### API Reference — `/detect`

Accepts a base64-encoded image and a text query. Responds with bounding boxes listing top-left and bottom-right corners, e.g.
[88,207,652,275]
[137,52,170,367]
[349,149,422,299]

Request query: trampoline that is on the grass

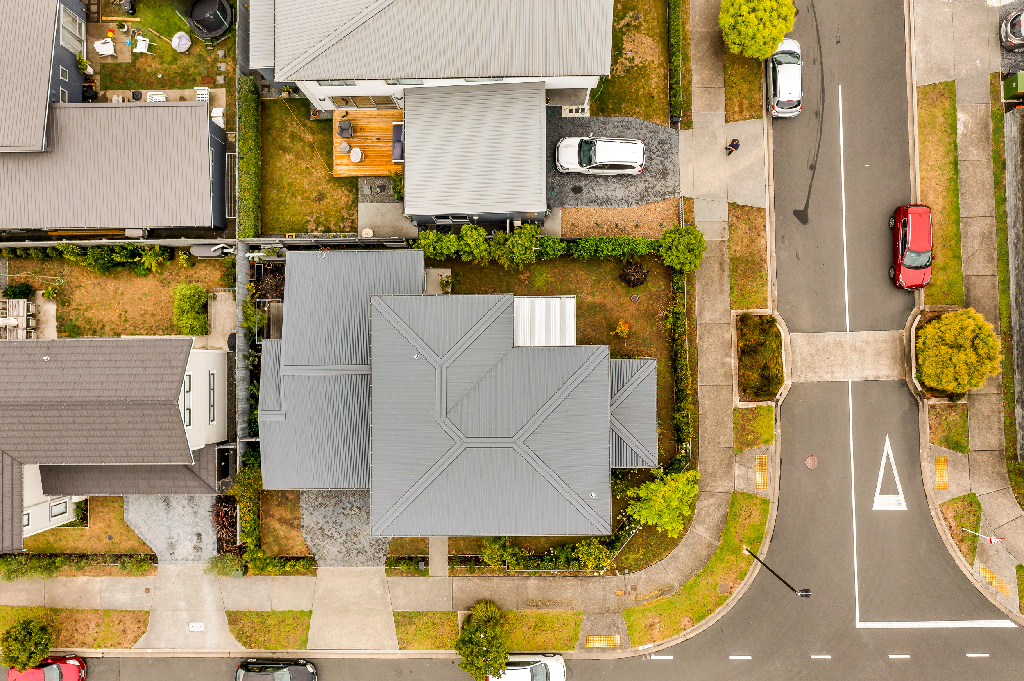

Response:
[177,0,235,50]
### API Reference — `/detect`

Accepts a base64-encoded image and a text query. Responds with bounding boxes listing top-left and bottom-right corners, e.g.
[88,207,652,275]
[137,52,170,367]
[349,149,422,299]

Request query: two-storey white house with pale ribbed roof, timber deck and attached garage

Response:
[246,0,615,226]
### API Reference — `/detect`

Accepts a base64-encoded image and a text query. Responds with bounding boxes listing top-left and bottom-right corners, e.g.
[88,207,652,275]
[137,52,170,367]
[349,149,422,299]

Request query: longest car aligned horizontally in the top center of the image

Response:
[554,131,647,177]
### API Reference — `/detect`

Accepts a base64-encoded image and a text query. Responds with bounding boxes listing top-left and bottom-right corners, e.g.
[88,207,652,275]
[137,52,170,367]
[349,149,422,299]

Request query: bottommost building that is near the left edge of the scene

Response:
[0,337,229,556]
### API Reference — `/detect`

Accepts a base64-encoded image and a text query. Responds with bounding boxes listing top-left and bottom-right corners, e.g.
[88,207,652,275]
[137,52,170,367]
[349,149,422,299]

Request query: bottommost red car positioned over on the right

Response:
[886,204,936,292]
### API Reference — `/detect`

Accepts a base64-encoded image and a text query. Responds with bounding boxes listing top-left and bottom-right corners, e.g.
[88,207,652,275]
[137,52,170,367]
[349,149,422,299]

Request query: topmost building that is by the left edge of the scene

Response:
[0,0,230,230]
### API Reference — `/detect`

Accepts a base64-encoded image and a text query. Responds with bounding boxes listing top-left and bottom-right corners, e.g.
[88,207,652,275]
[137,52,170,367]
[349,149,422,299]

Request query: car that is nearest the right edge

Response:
[999,13,1024,53]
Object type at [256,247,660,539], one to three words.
house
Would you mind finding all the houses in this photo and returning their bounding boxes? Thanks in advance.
[246,0,615,226]
[0,337,229,556]
[256,247,660,539]
[0,0,230,230]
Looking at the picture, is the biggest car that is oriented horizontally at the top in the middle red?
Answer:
No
